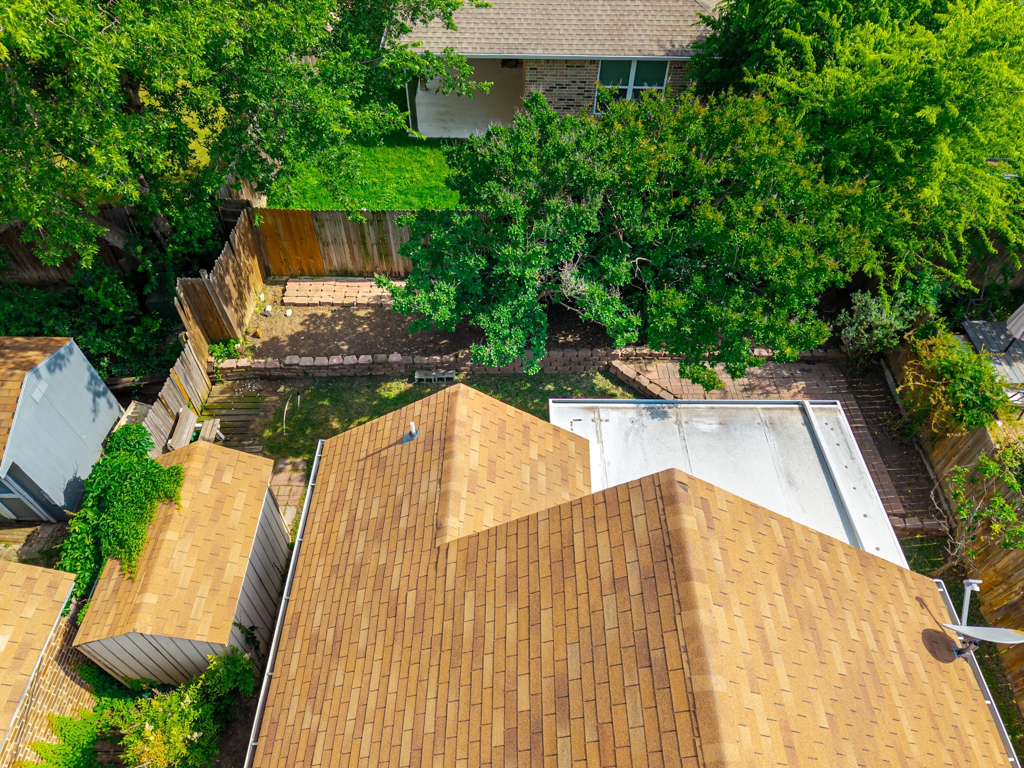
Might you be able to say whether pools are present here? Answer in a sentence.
No, the picture doesn't show any pool.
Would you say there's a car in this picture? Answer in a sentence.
No, there is no car in the image.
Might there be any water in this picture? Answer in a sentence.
No, water can't be seen anywhere here.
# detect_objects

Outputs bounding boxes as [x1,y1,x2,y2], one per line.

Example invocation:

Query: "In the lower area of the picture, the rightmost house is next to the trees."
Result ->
[240,383,1024,768]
